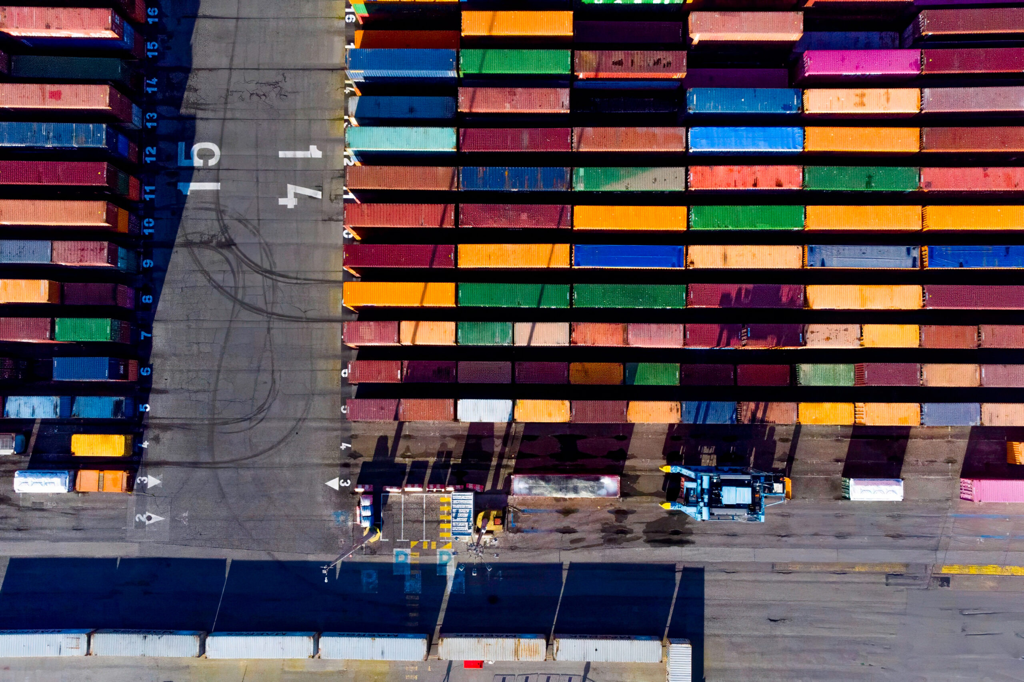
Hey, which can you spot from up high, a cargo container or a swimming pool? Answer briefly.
cargo container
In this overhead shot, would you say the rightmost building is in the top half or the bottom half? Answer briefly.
bottom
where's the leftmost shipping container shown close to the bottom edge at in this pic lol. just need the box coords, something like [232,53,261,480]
[0,627,100,656]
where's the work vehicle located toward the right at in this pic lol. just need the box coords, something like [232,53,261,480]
[658,465,789,522]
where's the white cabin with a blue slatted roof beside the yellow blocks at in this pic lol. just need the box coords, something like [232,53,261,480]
[452,489,475,536]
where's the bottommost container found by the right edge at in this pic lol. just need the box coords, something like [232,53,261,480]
[959,477,1024,502]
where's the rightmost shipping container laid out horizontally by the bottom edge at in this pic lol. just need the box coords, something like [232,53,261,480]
[553,633,662,663]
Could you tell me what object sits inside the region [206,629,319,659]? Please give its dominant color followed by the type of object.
white shipping container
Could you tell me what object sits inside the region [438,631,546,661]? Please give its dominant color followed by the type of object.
white shipping container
